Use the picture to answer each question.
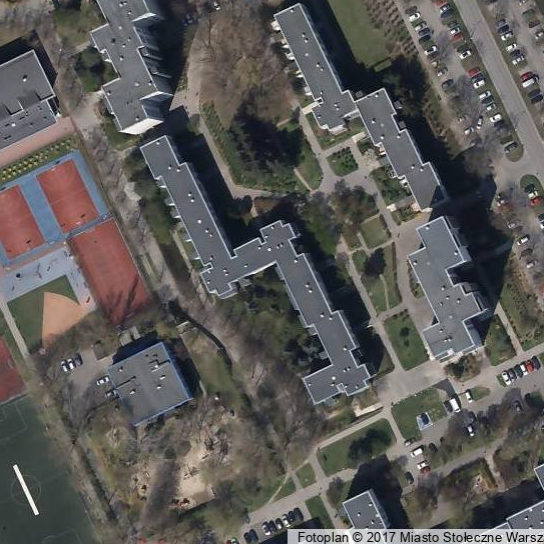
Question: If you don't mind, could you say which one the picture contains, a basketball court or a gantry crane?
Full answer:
There is a basketball court in the scene.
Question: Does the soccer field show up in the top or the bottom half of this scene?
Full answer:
Seen from above, the soccer field lies in the bottom half of the view.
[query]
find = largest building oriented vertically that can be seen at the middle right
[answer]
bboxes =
[407,217,491,365]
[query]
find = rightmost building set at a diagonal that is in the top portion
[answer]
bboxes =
[357,89,452,216]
